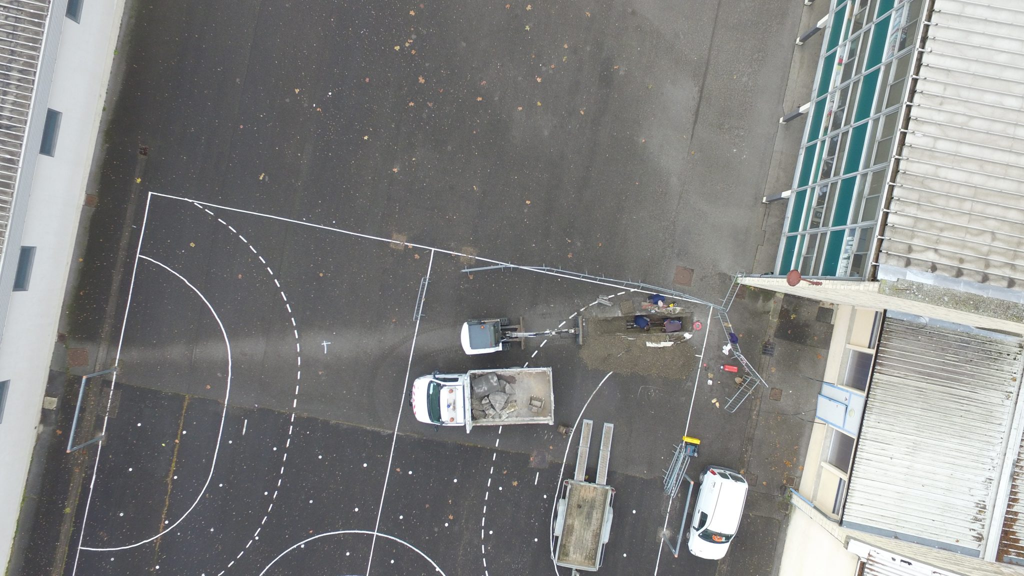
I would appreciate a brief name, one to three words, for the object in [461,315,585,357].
work vehicle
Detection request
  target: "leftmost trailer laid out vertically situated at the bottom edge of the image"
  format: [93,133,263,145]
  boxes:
[553,425,617,576]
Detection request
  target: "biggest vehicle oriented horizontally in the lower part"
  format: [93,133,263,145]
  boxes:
[407,365,556,432]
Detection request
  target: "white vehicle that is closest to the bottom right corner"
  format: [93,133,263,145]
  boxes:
[685,463,752,564]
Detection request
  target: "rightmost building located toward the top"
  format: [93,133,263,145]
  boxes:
[738,0,1024,337]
